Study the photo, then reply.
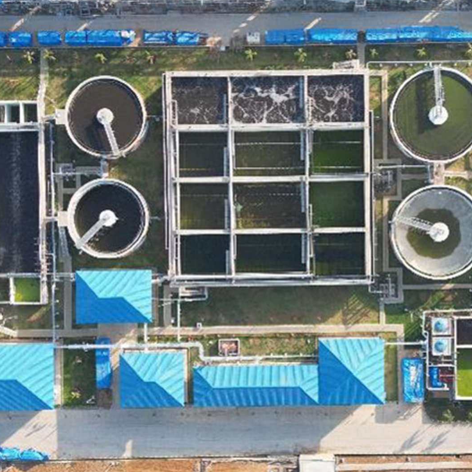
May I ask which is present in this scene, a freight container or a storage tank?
storage tank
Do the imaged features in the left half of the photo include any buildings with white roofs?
No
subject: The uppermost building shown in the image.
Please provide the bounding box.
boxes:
[75,270,152,324]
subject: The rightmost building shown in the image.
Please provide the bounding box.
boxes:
[319,337,385,405]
